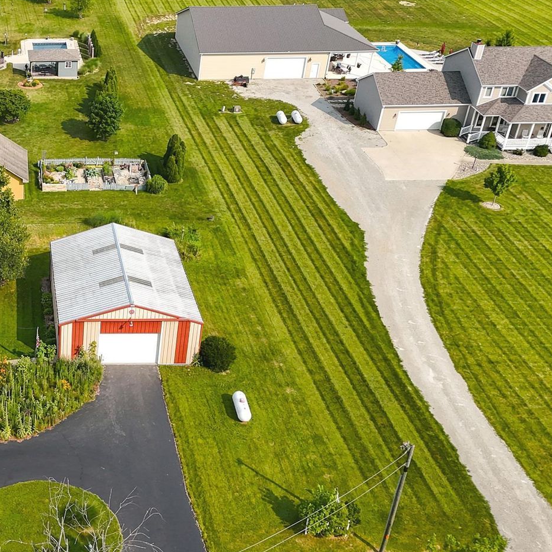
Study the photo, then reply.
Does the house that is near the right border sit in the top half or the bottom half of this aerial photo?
top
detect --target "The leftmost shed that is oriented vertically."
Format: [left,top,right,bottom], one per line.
[0,134,28,204]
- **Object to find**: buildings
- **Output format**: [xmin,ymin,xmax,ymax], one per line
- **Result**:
[0,134,28,204]
[172,2,383,81]
[347,36,552,148]
[27,49,81,78]
[47,224,207,366]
